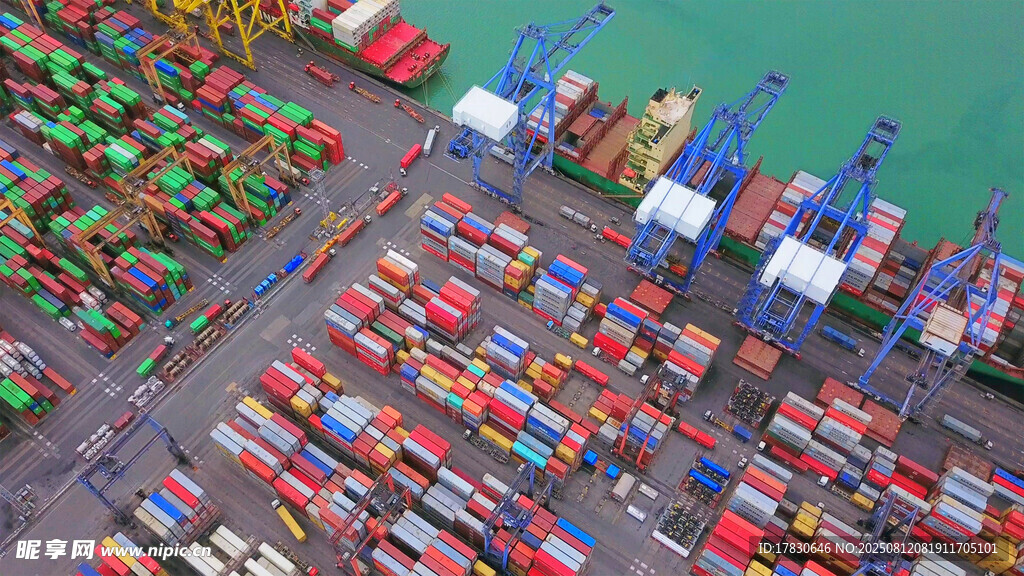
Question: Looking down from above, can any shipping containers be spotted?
Yes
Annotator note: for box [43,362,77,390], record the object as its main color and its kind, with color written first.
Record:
red shipping container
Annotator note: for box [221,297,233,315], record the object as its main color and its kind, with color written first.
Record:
red vehicle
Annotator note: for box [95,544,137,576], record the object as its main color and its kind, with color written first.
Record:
red shipping container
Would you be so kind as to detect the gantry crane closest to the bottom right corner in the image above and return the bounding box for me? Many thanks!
[845,488,923,576]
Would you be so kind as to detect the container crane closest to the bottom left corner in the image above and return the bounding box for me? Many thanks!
[75,413,190,525]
